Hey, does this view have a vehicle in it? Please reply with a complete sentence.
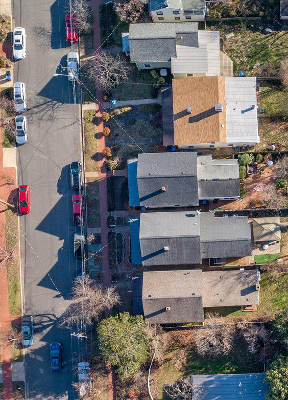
Yes, a vehicle appears in the view.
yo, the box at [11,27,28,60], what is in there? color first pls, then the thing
white car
